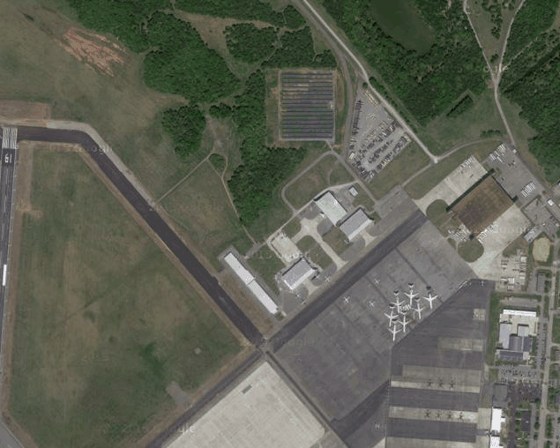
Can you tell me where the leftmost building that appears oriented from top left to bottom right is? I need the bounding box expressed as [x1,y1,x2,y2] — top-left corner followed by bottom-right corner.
[224,252,256,286]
